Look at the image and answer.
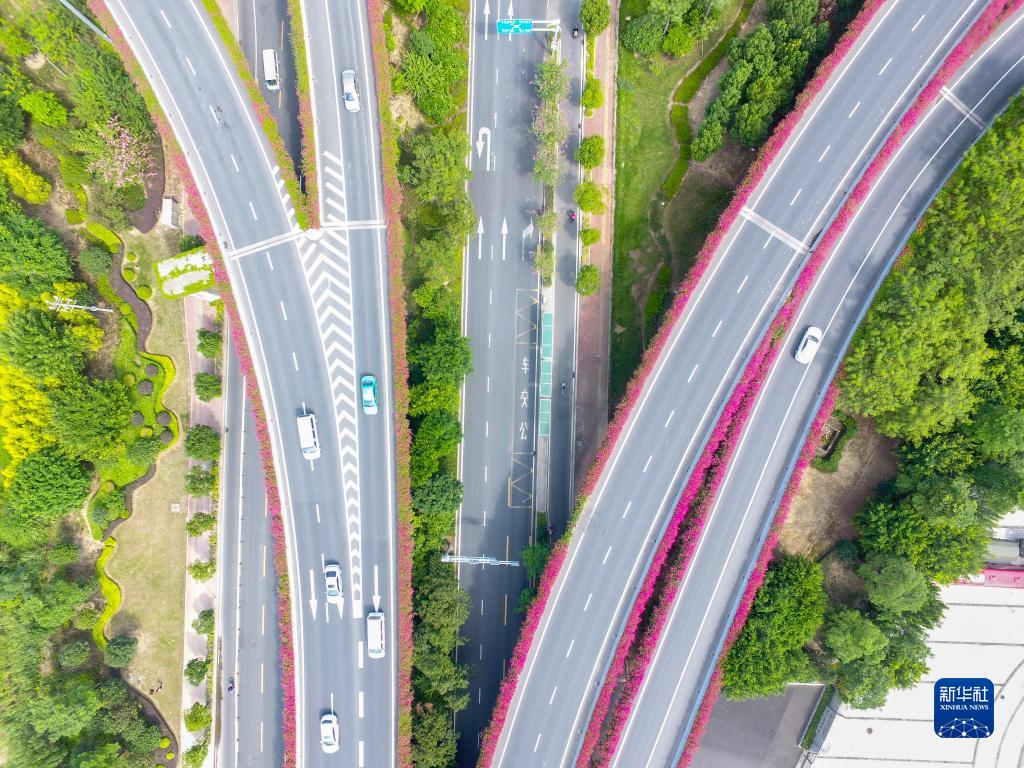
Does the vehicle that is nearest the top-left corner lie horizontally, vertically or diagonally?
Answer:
vertically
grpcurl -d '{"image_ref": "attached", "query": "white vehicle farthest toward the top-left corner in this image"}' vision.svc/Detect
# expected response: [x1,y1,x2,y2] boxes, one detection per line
[261,46,281,91]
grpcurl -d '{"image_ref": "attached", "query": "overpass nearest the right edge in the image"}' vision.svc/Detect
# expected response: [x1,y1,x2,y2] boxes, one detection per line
[484,0,995,768]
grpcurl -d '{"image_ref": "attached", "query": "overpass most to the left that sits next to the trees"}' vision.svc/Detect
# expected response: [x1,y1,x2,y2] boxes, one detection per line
[101,0,407,768]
